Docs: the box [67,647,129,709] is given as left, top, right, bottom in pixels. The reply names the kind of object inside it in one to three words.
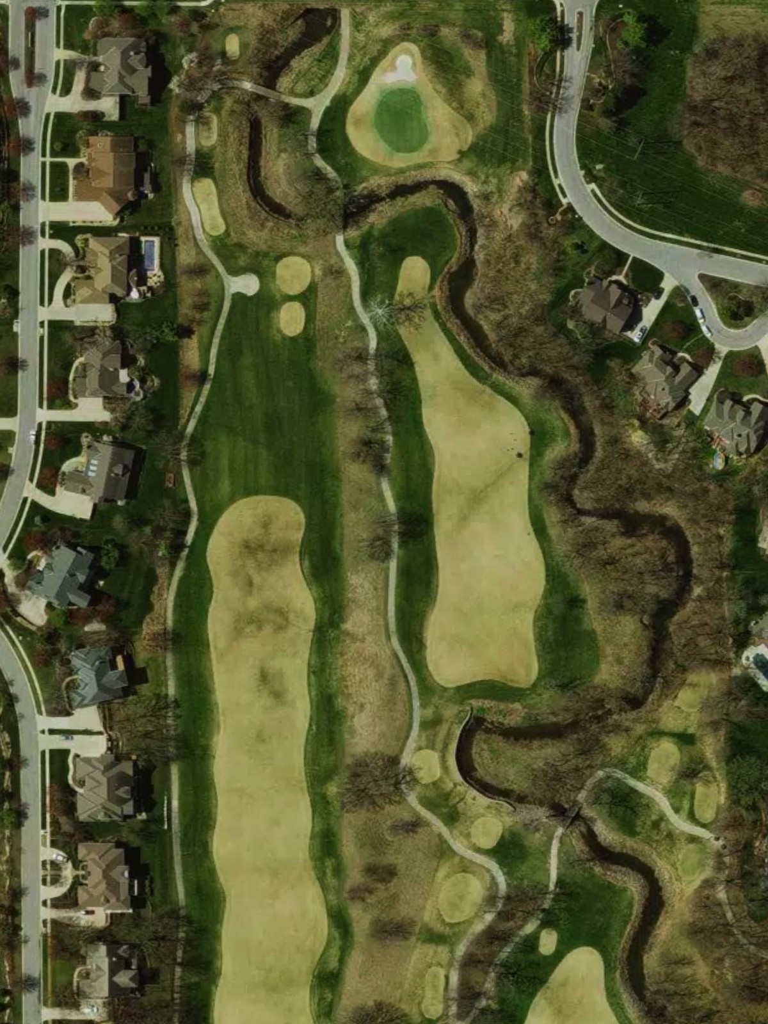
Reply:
house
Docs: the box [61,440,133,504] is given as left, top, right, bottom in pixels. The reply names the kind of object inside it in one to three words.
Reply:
house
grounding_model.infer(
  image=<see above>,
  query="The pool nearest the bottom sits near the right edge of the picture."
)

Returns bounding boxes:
[742,643,768,693]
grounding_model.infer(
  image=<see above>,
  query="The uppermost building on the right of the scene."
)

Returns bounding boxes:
[577,276,641,336]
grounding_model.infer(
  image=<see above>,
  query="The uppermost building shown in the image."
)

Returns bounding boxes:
[89,36,150,105]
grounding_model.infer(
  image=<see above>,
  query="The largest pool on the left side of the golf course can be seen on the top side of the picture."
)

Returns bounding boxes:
[140,237,164,285]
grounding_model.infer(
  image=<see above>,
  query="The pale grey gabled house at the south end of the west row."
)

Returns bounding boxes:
[77,944,139,1000]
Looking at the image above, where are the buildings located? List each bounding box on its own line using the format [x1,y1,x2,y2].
[75,756,147,822]
[89,36,150,105]
[77,844,138,913]
[61,440,133,504]
[705,396,768,458]
[630,341,705,419]
[75,236,145,303]
[71,340,130,398]
[20,540,97,610]
[77,944,139,1000]
[67,647,129,709]
[76,134,150,217]
[577,276,641,336]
